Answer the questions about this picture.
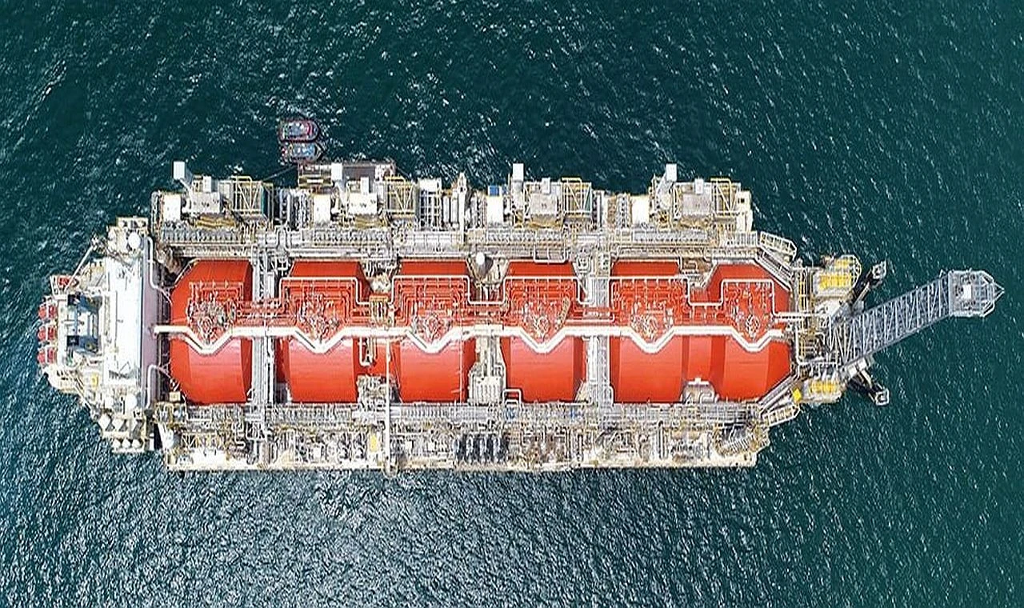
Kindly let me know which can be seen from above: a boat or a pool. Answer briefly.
boat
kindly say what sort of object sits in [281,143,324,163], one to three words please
boat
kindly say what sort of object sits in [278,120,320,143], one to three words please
boat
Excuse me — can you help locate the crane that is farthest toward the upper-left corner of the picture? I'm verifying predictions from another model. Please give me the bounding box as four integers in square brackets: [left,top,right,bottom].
[62,240,110,292]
